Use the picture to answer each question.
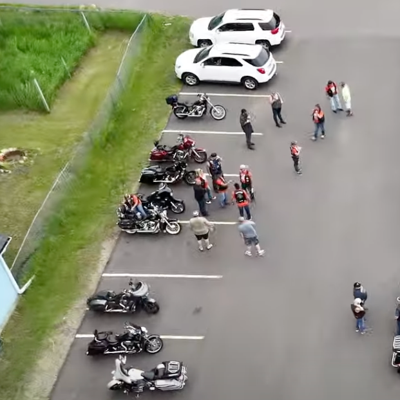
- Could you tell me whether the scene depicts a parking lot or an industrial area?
parking lot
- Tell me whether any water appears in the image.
No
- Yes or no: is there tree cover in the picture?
No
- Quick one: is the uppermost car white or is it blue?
white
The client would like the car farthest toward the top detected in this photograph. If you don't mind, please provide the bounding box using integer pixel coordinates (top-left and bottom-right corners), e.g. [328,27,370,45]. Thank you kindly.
[186,1,292,50]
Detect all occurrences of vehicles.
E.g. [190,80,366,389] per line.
[170,39,277,90]
[143,121,211,164]
[98,351,185,399]
[133,151,199,185]
[166,89,225,121]
[123,180,187,214]
[79,314,164,356]
[81,274,162,315]
[115,202,182,235]
[186,1,292,50]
